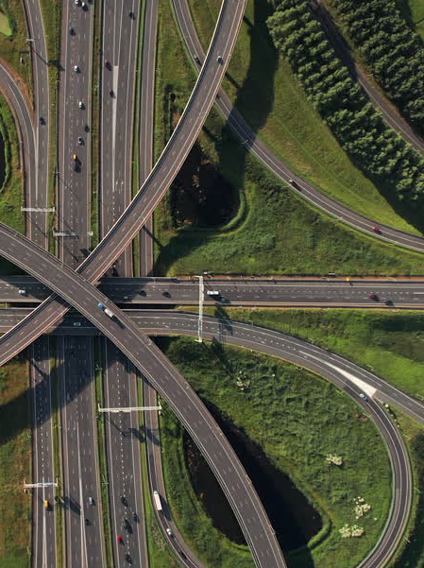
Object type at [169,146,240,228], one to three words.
pond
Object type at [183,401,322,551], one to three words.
pond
